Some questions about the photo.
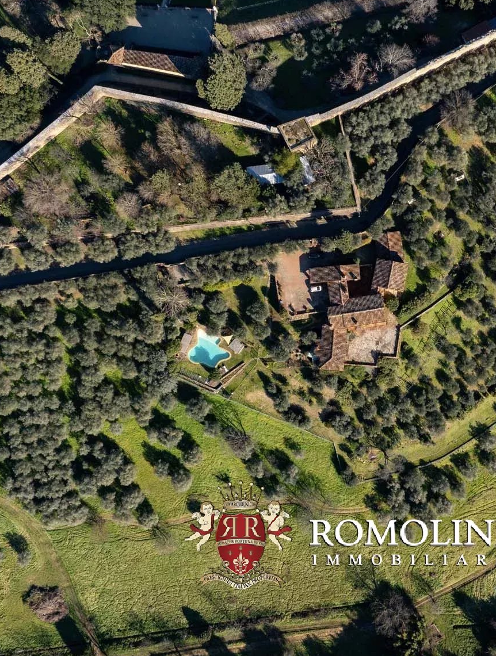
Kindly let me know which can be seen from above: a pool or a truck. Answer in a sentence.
The one in the frame is a pool.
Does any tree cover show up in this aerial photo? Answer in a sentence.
Yes, the picture does contain tree cover.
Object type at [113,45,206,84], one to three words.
house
